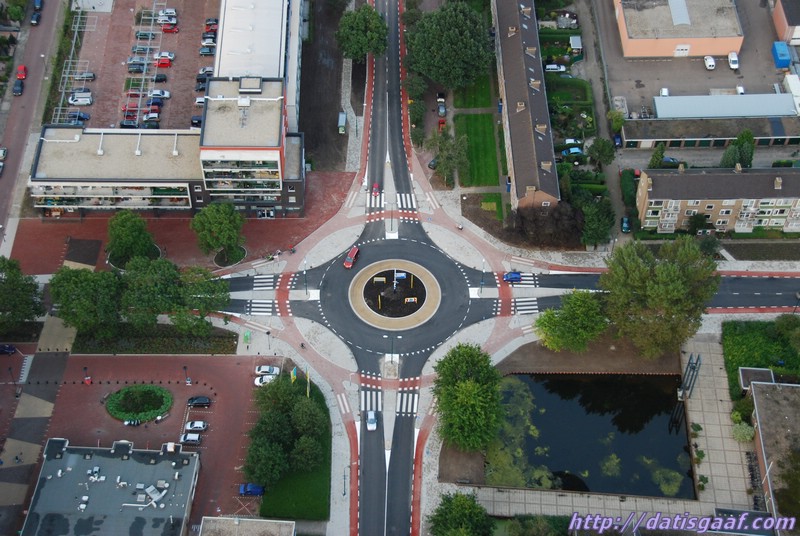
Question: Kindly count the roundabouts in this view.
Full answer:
The picture shows 1 roundabout.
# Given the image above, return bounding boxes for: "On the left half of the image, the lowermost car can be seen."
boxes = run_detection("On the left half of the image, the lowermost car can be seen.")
[238,484,265,496]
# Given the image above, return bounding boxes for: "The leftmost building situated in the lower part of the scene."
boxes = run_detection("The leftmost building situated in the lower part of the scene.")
[24,438,205,536]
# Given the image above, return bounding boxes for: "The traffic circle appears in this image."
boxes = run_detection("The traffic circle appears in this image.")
[317,238,472,356]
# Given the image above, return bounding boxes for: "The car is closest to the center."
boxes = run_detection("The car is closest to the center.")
[344,248,359,266]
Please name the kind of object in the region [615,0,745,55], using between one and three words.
building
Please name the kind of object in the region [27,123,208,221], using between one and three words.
building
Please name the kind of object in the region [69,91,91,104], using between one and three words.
vehicle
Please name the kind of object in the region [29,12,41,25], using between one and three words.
vehicle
